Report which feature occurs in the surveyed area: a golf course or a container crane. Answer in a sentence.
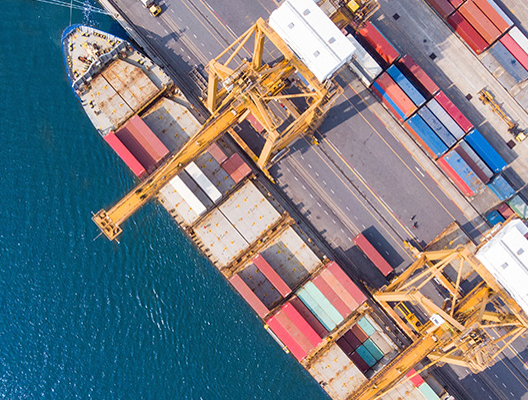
It is a container crane that can be seen here.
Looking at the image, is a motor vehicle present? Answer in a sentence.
Yes, this view includes a motor vehicle.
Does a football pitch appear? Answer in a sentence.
No, the scene contains no football pitch.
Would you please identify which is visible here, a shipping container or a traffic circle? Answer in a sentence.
This aerial view contains a shipping container.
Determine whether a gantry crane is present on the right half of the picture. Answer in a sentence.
Yes, a gantry crane can be seen on the right half of the picture.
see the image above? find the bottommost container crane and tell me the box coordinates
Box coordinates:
[345,212,528,400]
